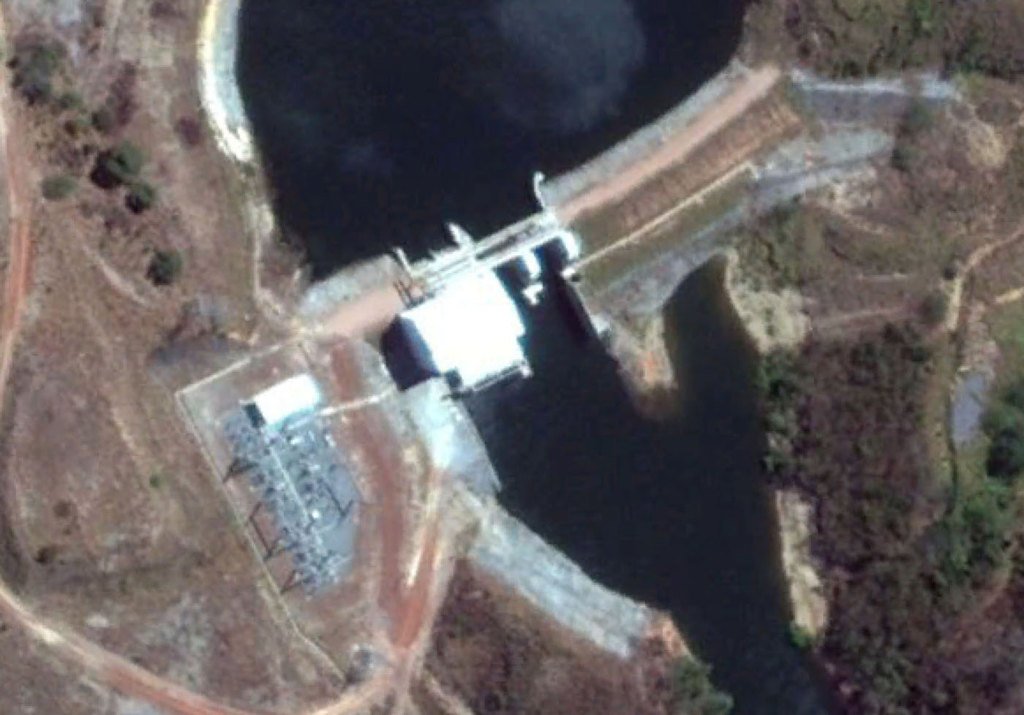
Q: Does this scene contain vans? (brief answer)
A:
No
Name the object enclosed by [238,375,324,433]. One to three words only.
building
